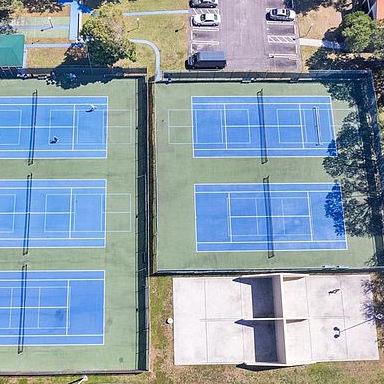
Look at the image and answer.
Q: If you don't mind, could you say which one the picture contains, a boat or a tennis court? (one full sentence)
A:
The image shows a tennis court.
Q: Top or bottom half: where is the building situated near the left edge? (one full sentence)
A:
Seen from above, the building situated near the left edge lies in the top half of the view.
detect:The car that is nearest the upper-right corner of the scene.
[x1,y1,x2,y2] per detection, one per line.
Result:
[268,7,295,20]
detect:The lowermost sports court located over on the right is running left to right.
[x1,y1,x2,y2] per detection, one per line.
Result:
[173,273,378,365]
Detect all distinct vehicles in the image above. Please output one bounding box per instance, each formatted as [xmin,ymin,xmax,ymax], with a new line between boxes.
[268,7,295,20]
[189,50,227,67]
[192,13,219,26]
[191,0,218,7]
